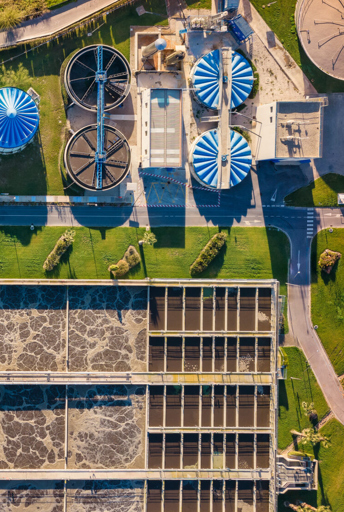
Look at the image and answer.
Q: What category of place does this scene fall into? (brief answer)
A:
industrial area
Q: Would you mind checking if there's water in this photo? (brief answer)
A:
Yes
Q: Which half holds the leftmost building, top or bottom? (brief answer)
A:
top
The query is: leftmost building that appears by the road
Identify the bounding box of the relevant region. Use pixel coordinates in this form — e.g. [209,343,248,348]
[140,88,200,172]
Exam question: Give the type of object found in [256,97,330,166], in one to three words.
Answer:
building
